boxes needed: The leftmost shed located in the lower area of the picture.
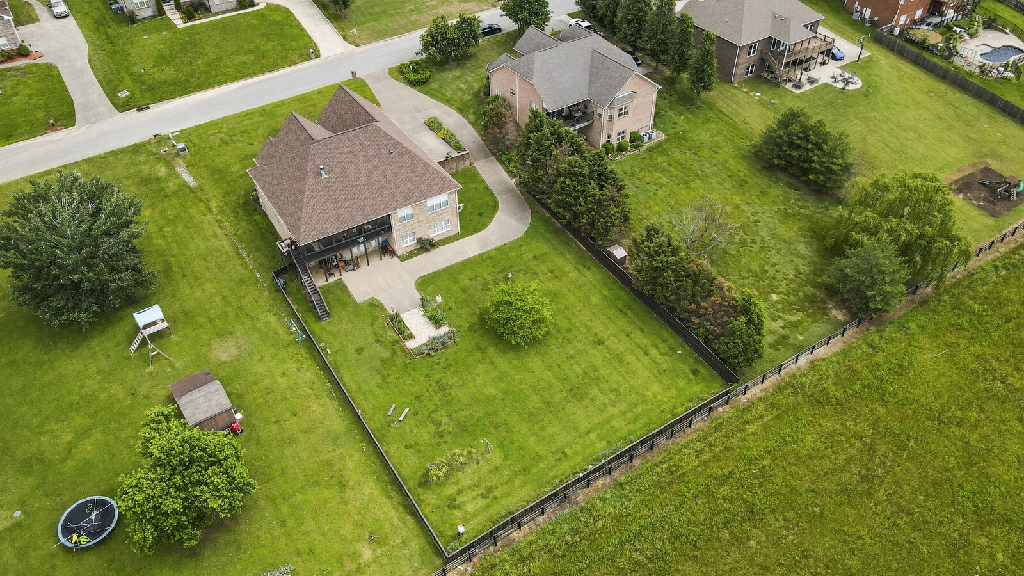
[171,369,234,434]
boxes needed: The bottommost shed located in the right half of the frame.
[607,243,631,267]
